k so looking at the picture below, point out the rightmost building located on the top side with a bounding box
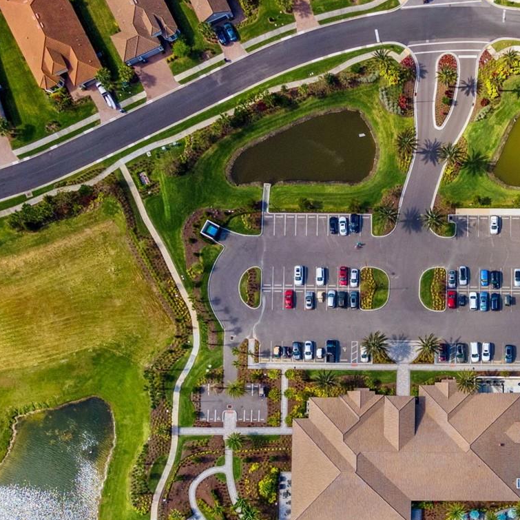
[184,0,228,32]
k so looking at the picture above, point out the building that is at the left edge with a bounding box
[0,0,103,94]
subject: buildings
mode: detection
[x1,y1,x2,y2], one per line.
[0,0,103,94]
[184,0,228,32]
[107,0,180,71]
[292,380,520,520]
